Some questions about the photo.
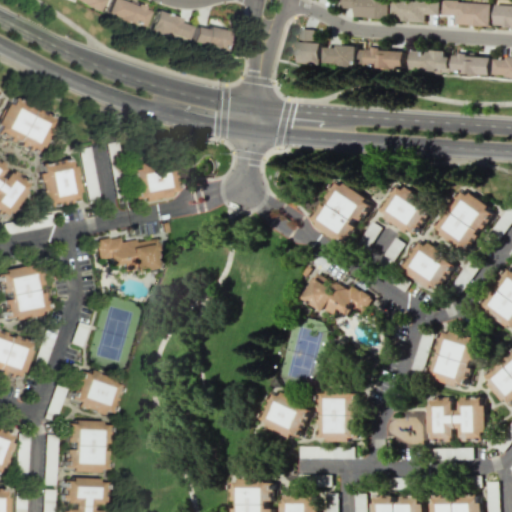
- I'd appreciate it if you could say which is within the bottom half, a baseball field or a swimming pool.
swimming pool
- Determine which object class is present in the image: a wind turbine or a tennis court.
tennis court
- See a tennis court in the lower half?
Yes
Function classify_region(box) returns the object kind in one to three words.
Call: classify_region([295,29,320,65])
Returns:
house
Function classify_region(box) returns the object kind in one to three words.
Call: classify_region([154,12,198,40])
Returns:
house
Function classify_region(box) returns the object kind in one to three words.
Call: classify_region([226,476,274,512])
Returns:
building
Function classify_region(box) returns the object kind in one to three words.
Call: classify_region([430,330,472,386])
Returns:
building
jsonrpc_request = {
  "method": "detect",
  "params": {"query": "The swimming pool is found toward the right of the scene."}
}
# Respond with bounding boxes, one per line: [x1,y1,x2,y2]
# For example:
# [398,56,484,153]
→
[355,326,380,347]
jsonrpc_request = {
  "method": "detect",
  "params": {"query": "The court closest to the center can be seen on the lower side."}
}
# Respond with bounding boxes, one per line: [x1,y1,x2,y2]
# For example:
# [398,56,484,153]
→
[281,319,328,384]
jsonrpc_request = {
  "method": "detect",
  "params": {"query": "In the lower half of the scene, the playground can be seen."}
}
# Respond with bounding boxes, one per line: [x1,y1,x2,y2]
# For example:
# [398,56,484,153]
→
[389,417,426,446]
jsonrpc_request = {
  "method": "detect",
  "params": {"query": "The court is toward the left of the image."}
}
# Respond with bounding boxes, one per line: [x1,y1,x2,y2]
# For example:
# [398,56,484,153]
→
[90,297,142,370]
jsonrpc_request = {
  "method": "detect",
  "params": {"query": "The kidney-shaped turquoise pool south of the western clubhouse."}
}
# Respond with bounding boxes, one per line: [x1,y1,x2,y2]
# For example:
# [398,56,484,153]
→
[118,278,149,299]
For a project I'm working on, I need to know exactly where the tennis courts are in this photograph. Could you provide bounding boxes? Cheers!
[281,319,328,384]
[90,297,142,370]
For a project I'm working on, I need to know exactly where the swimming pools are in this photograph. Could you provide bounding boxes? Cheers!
[118,278,149,299]
[355,326,380,347]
